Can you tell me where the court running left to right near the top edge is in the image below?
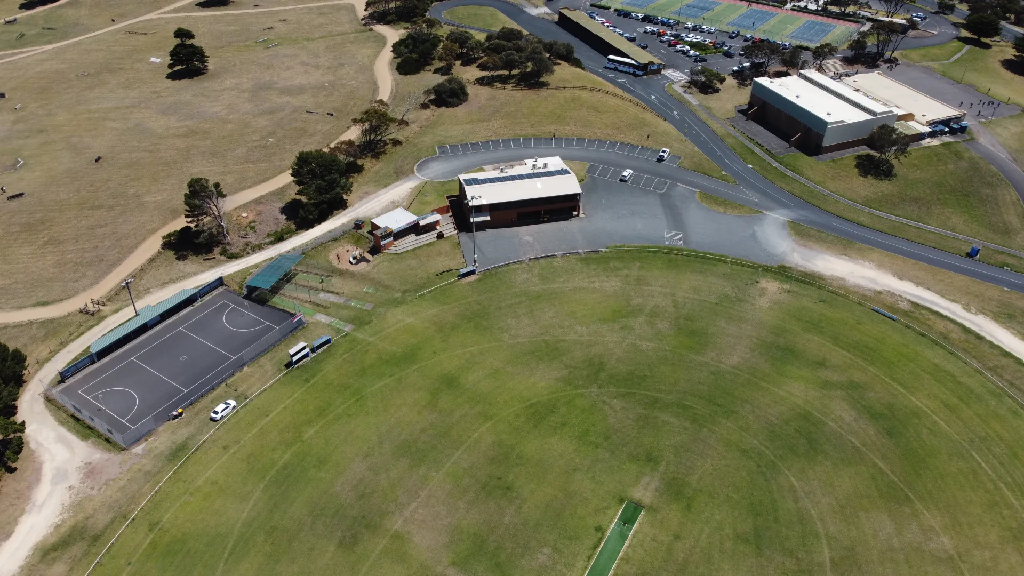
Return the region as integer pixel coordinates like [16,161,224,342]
[620,0,839,44]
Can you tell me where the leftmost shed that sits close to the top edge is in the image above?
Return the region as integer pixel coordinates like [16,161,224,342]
[558,7,663,76]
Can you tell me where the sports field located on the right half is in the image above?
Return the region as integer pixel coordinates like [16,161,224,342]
[586,501,643,576]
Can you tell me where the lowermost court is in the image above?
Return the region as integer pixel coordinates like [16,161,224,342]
[60,288,294,437]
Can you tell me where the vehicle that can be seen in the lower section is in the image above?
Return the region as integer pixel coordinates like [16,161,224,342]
[207,399,238,420]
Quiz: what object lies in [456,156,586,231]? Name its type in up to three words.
building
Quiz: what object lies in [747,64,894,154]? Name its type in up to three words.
building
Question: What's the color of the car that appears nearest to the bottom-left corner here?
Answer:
white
